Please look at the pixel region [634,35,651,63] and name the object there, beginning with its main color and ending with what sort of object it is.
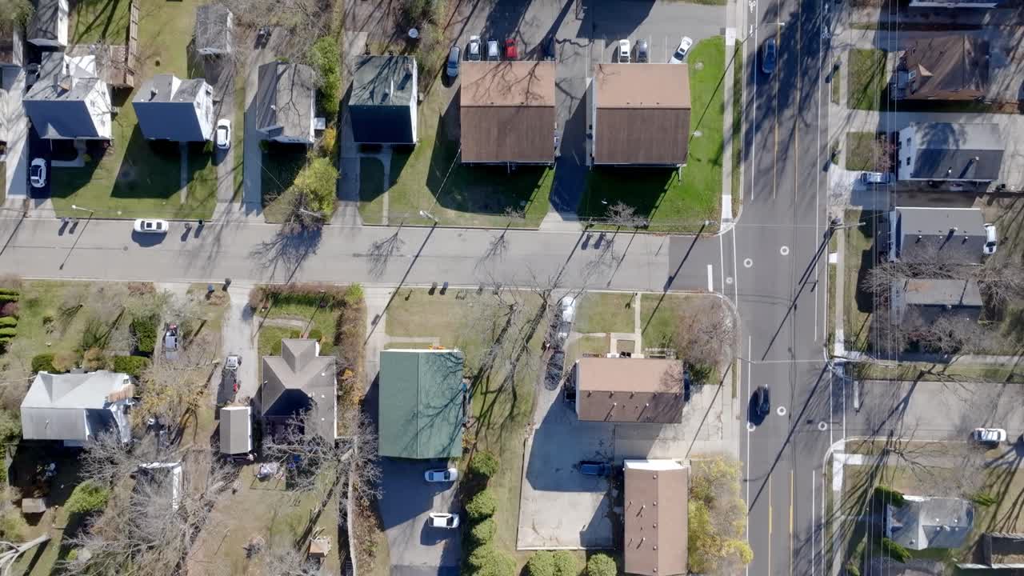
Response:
gray car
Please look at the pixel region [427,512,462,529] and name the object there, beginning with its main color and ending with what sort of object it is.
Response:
white car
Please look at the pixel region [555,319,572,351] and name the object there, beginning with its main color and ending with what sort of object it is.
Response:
gray car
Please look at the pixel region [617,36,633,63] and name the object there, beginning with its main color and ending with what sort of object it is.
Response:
white car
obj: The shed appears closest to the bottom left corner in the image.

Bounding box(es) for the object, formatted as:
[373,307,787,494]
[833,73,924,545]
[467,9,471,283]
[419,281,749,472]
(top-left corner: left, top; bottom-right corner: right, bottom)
[20,496,51,513]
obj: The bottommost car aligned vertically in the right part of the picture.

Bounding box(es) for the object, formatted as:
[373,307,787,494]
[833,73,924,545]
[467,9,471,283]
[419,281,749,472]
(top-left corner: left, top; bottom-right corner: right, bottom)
[754,382,772,417]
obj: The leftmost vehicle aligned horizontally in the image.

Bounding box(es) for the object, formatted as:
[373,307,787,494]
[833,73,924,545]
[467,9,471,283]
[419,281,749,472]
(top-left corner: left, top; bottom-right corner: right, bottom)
[134,218,169,234]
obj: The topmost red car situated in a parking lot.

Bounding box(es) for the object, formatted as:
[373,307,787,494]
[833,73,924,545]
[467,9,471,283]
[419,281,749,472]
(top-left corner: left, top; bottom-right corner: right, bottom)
[503,36,519,61]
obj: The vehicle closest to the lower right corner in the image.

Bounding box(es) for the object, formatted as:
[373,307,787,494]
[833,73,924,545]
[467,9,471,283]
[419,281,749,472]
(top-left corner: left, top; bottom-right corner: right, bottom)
[972,427,1007,444]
